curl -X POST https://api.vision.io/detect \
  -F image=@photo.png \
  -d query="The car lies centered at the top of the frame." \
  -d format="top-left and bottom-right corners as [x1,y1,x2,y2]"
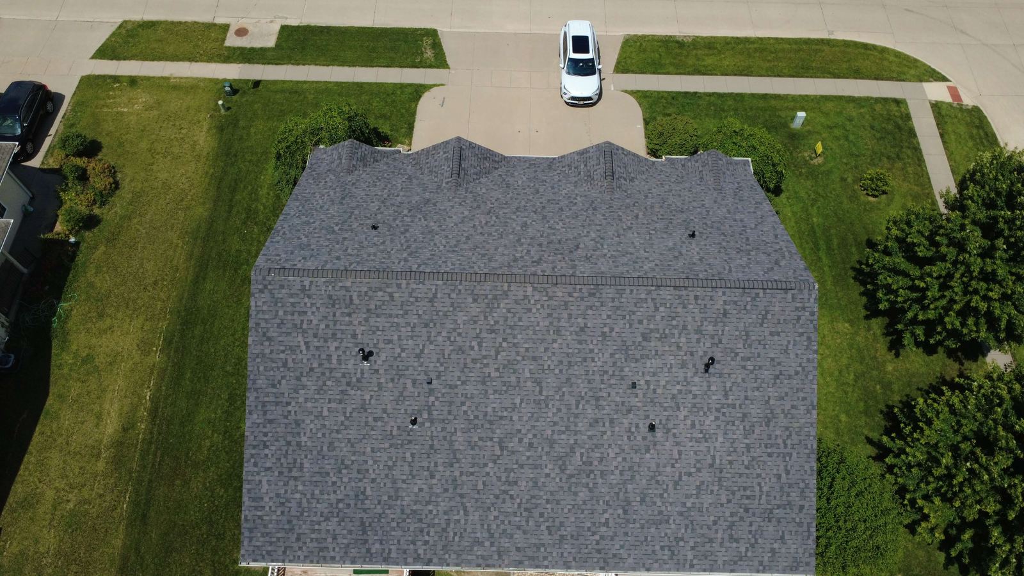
[558,23,603,106]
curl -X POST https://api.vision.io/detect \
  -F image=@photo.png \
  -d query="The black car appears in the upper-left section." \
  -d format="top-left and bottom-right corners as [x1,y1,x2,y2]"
[0,80,51,167]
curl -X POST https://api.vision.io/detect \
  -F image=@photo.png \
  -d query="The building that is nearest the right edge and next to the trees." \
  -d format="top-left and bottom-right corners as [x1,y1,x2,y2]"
[239,133,818,576]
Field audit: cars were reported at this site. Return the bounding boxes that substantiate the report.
[558,23,603,106]
[0,80,51,167]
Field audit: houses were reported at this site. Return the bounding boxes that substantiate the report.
[0,140,38,356]
[239,133,818,576]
